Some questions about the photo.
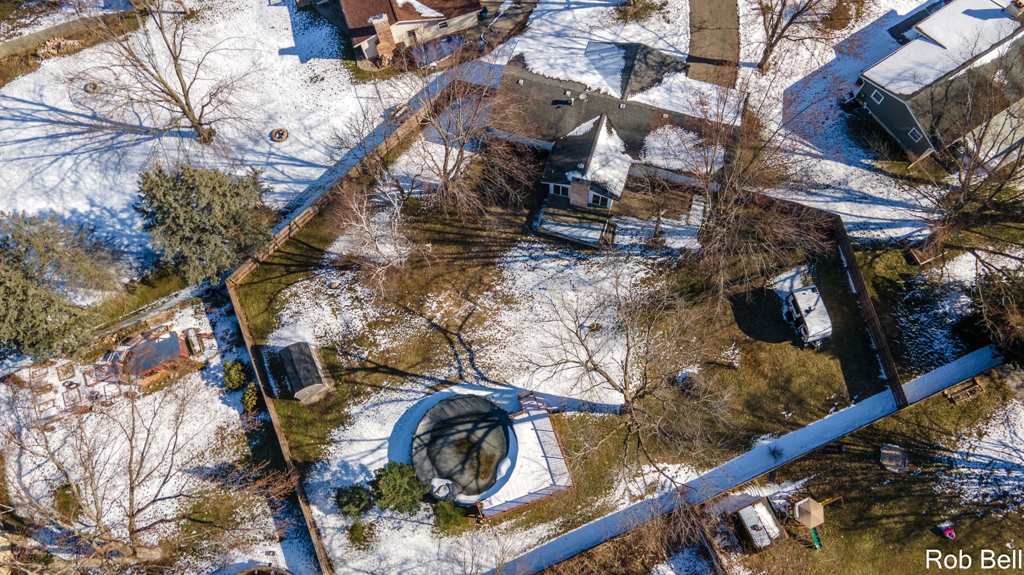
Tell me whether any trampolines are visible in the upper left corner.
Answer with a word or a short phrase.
No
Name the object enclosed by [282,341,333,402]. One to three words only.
shed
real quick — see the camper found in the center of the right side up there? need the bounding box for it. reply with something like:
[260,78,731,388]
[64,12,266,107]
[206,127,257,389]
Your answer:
[784,288,831,359]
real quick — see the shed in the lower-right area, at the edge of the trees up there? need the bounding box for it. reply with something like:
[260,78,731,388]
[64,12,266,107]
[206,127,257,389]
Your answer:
[734,496,789,551]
